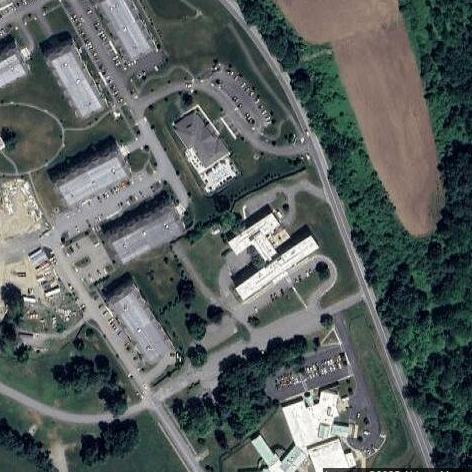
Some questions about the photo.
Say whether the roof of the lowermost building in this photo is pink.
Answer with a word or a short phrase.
No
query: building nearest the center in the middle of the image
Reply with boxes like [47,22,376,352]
[229,212,280,261]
